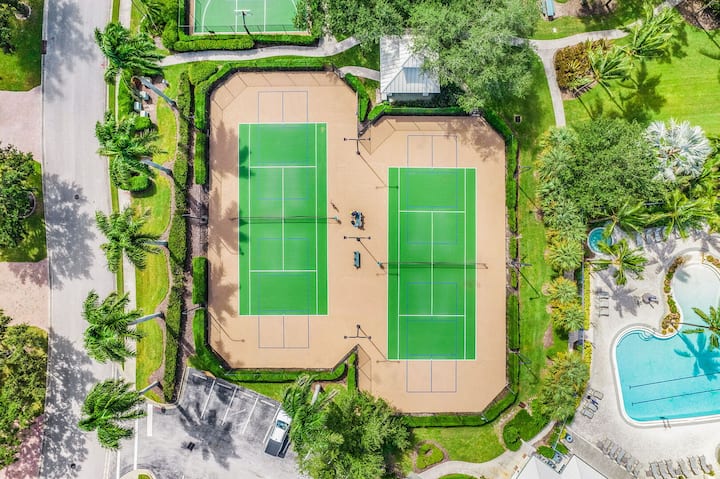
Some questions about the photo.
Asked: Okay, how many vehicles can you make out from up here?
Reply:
1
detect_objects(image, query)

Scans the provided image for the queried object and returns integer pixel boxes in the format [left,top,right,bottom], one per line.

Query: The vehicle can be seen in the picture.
[265,407,298,457]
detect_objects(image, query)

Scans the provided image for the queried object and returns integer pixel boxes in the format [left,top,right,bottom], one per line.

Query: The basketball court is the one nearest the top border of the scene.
[188,0,315,36]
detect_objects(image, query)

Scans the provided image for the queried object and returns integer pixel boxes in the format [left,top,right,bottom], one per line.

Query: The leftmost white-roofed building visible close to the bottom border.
[505,449,560,479]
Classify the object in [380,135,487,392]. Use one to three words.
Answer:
tennis court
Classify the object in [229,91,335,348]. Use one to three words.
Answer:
tennis court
